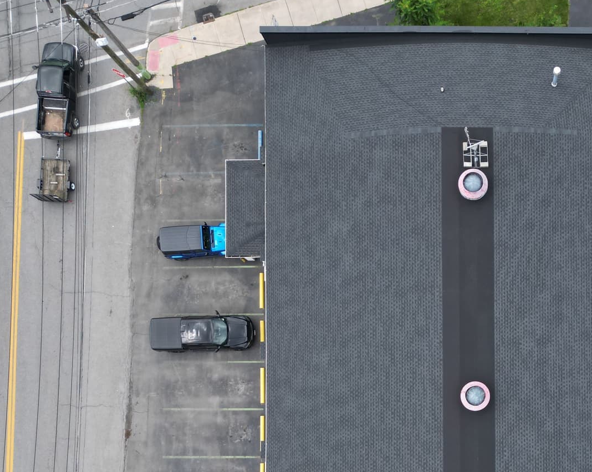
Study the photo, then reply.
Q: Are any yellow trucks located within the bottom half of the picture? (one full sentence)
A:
No, I can find no yellow truck within the bottom half of the picture.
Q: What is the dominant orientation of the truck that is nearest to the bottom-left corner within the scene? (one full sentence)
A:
I'd say the truck that is nearest to the bottom-left corner is aligned from side to side in the picture.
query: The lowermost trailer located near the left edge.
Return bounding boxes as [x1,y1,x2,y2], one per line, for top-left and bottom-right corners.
[27,141,78,204]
